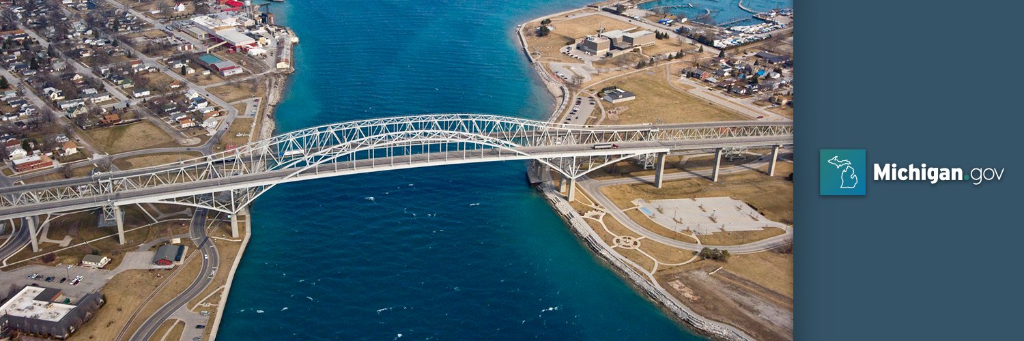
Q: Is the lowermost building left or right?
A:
left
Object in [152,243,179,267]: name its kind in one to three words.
building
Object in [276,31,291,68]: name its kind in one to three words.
building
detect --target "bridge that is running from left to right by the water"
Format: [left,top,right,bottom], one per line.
[0,123,1024,254]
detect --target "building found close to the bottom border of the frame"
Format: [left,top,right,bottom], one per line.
[0,283,105,337]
